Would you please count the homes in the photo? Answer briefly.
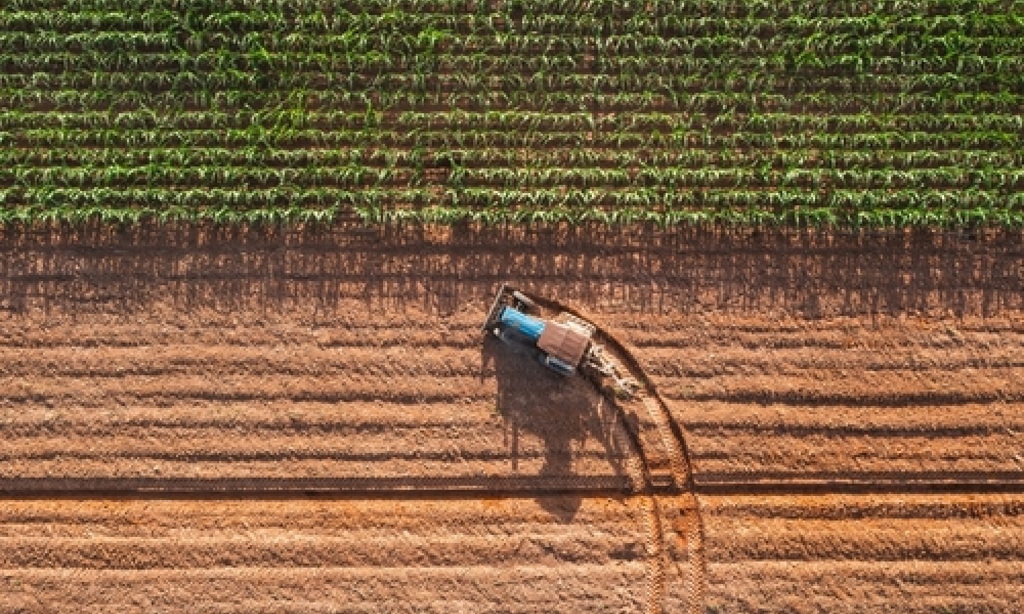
0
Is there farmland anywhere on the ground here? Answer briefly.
Yes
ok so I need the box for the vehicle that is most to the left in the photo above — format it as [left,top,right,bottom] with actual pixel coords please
[483,284,598,377]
